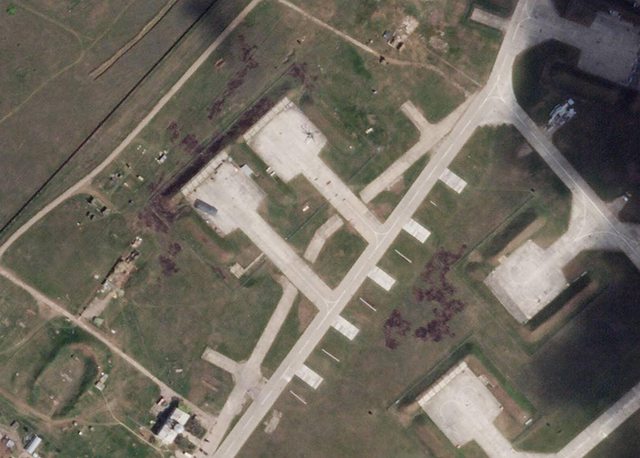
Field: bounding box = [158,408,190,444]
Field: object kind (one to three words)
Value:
building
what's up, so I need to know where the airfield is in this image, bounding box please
[188,0,640,458]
